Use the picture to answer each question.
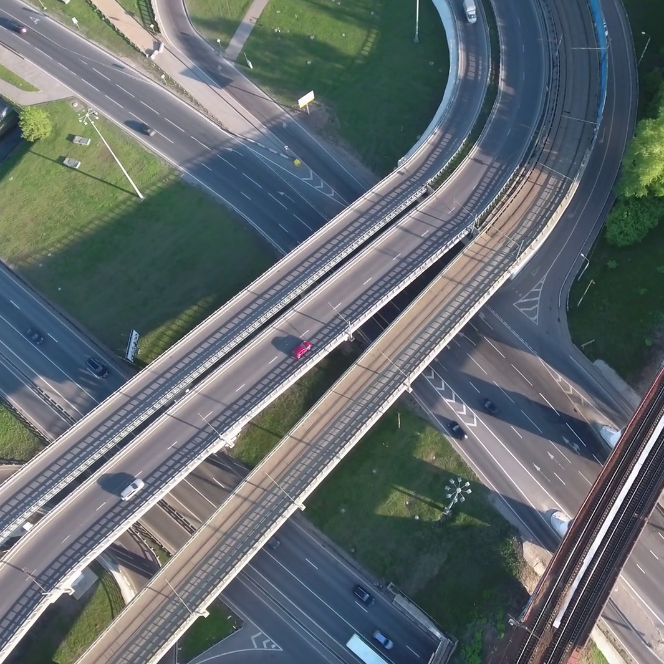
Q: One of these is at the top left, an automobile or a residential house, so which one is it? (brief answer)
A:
automobile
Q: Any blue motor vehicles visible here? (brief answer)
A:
Yes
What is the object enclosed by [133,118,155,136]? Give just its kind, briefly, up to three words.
car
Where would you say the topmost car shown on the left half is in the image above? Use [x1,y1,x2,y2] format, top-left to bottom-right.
[5,19,25,34]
